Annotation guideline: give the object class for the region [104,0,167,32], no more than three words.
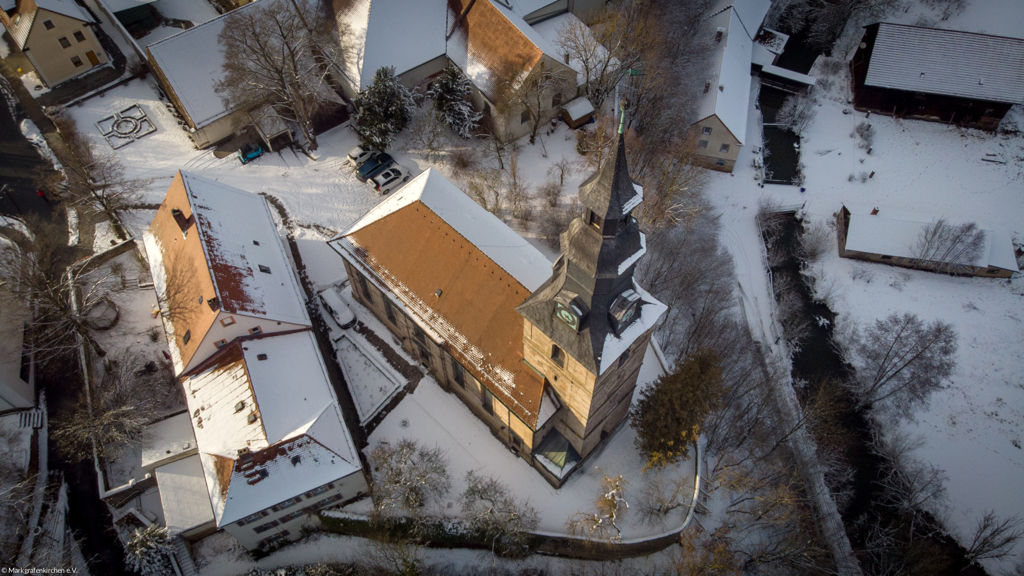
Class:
shed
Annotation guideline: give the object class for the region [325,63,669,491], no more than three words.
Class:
church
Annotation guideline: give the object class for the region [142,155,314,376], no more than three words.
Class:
house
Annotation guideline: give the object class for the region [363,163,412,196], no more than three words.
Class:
car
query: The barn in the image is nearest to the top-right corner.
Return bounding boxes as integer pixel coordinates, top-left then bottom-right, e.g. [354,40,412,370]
[853,19,1024,129]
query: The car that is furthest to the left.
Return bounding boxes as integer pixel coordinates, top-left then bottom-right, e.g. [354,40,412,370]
[230,139,268,165]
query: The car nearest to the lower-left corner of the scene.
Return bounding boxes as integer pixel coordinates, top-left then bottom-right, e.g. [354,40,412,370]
[319,285,359,329]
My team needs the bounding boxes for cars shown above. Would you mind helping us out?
[319,285,359,329]
[341,143,377,168]
[230,139,268,165]
[363,163,412,196]
[350,154,395,187]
